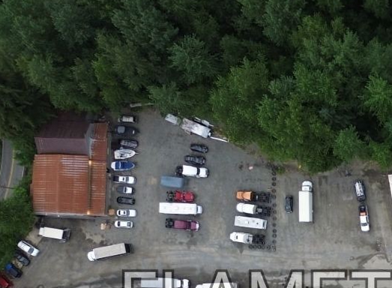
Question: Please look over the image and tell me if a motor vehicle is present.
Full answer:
Yes, the frame does contain a motor vehicle.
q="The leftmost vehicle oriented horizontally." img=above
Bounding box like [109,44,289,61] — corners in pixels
[43,228,76,241]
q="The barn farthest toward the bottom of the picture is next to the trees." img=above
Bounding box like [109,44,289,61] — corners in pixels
[33,153,111,217]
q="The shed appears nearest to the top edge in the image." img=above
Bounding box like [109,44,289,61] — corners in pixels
[34,109,114,162]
